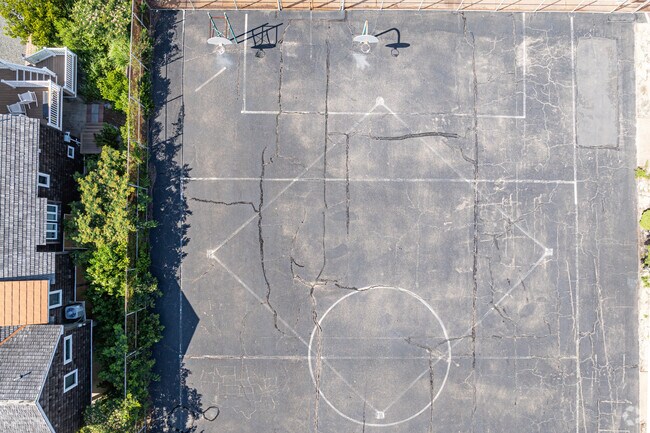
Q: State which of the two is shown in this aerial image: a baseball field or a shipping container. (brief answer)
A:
baseball field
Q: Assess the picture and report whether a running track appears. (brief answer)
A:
No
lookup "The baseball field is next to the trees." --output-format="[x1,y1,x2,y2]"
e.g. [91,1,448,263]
[209,100,552,417]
